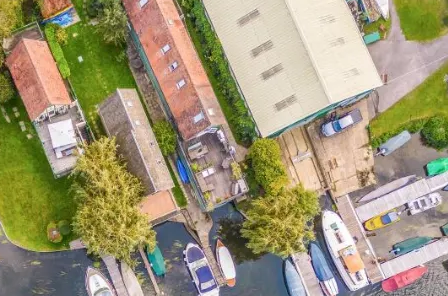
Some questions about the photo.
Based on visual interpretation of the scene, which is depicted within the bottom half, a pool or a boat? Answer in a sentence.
What appears within the bottom half is a boat.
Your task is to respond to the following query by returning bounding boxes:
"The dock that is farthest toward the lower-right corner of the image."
[380,234,448,279]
